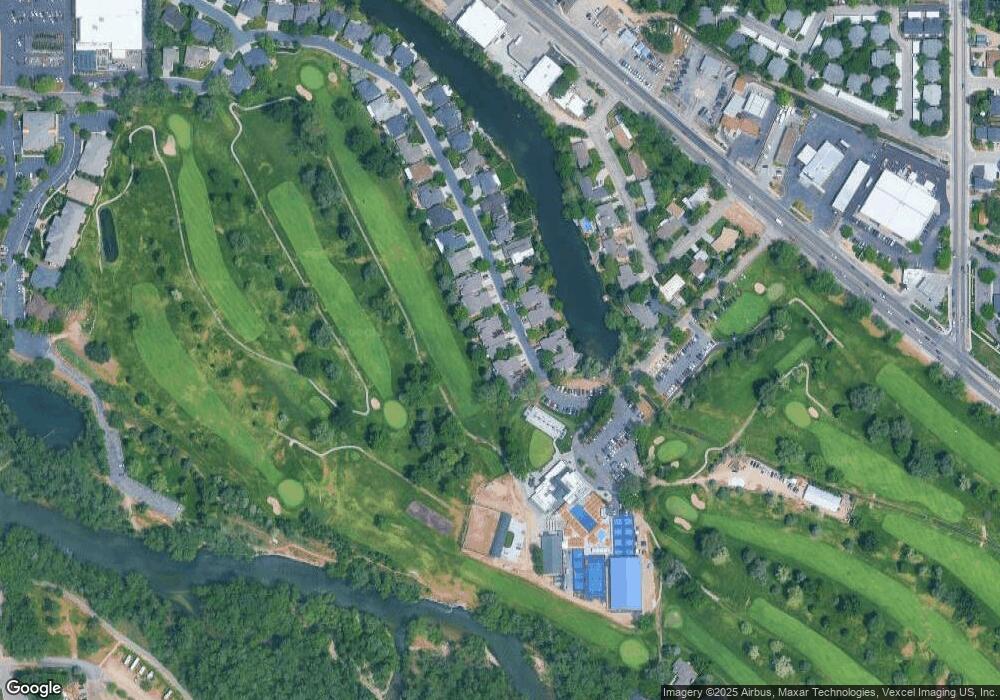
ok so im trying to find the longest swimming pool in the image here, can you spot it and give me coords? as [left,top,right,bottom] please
[569,504,598,532]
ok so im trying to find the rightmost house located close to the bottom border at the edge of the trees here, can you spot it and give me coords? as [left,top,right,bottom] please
[674,655,697,681]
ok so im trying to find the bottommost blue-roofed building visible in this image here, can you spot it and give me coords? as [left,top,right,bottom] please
[611,557,642,610]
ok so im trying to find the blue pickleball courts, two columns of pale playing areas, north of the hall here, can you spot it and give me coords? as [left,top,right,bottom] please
[612,514,635,556]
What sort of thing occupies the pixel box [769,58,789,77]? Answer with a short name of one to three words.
building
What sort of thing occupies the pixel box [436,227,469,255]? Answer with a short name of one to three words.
house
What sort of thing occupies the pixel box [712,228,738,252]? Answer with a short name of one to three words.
house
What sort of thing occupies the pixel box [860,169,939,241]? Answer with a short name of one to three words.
building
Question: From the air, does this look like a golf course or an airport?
golf course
